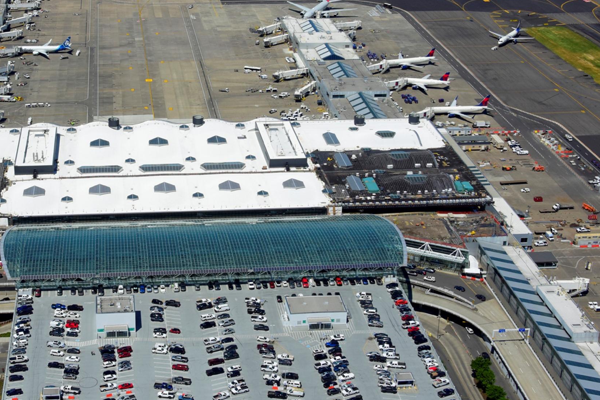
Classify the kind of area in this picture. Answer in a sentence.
This image shows an airport.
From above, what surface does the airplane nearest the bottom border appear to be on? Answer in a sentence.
From above, the airplane nearest the bottom border can be seen on the apron.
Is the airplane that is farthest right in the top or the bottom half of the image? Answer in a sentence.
The airplane that is farthest right is in the top half of the image.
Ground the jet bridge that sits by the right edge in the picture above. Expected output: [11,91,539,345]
[547,276,593,295]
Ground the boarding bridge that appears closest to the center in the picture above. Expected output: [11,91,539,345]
[292,81,314,101]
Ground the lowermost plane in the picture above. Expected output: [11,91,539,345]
[420,92,497,118]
